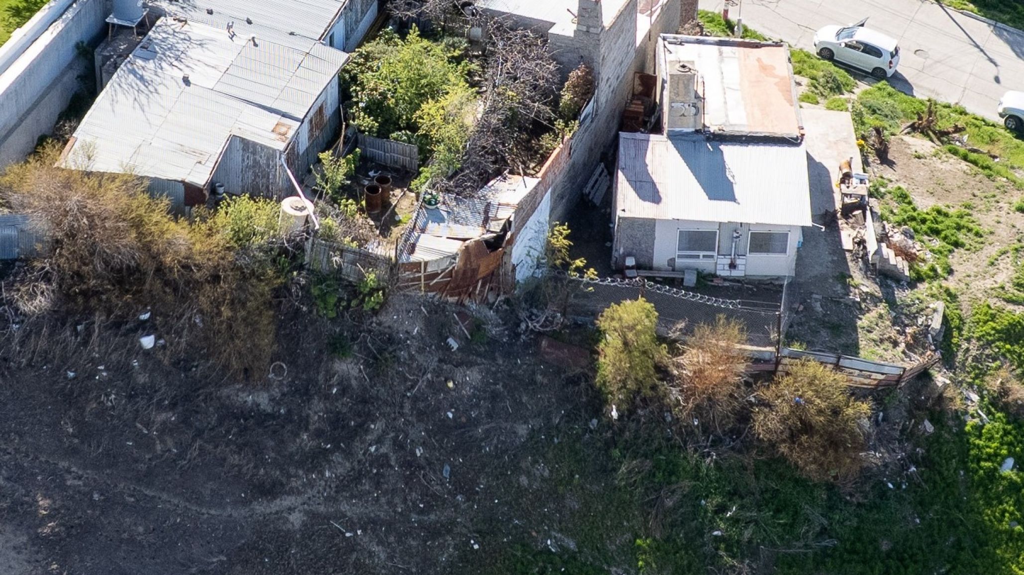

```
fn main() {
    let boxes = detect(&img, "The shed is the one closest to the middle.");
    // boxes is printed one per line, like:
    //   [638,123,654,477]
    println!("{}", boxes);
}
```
[396,175,536,320]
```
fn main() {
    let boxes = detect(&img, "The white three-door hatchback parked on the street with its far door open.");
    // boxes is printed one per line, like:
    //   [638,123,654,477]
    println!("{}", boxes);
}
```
[820,17,903,77]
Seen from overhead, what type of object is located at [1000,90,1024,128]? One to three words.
car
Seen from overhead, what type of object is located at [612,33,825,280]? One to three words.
house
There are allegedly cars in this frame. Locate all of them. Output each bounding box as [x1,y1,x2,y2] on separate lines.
[1000,90,1024,128]
[820,17,903,77]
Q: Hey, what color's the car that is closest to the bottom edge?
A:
white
